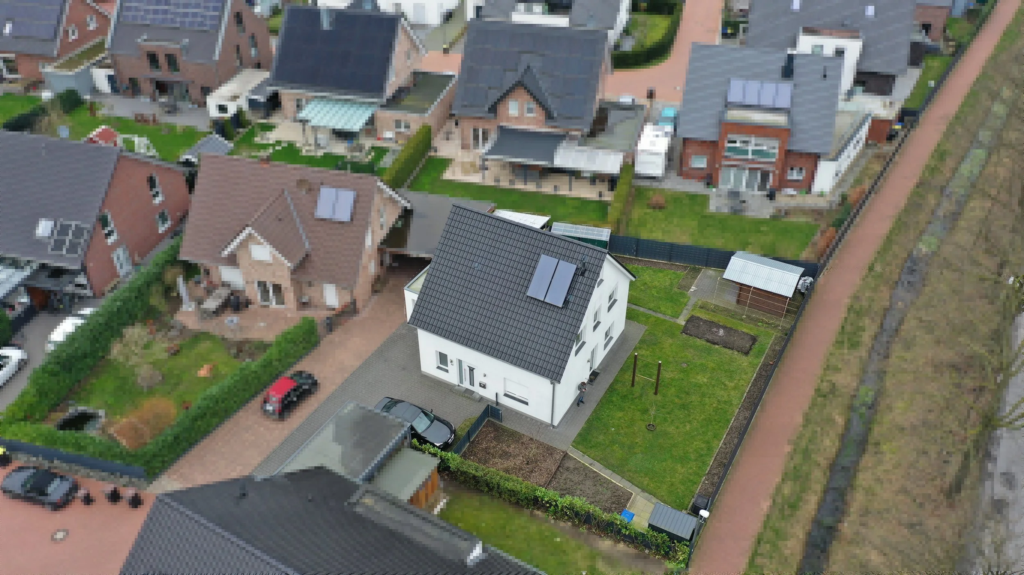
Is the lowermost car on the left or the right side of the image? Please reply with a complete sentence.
The lowermost car is on the left side of the image.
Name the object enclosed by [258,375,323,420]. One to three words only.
car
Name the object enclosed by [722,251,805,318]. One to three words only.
shed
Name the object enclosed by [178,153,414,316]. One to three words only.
house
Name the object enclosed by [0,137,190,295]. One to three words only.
house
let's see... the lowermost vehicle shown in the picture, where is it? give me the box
[0,468,89,515]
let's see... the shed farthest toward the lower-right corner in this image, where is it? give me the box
[643,497,697,548]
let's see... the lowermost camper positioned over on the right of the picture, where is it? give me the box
[636,128,672,176]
